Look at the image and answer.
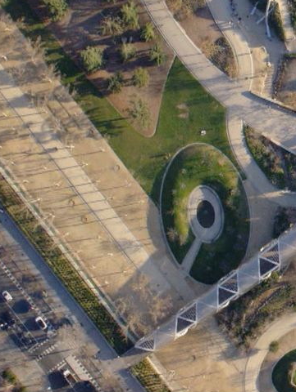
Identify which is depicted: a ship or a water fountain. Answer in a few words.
water fountain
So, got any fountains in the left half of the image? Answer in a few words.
No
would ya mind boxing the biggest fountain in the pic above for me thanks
[187,185,224,243]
